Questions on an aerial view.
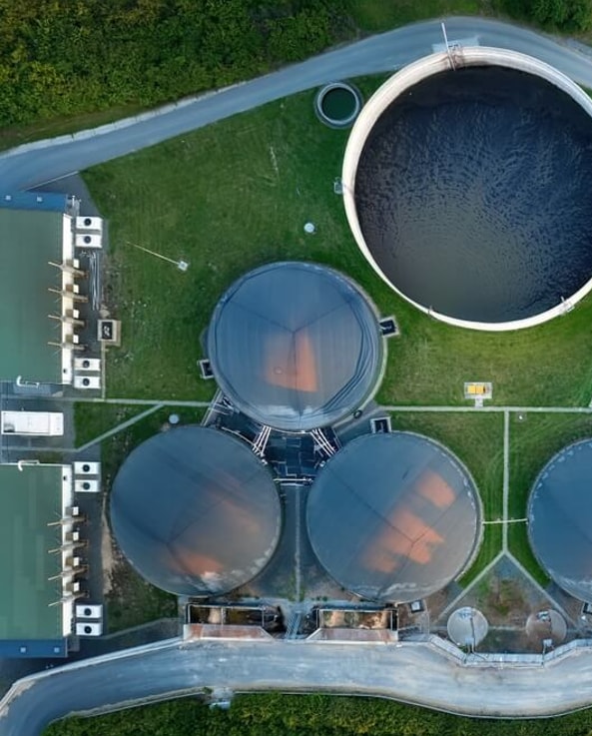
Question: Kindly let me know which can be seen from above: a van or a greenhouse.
van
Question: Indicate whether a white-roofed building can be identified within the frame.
No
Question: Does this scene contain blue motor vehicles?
No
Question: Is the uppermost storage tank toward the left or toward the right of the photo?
right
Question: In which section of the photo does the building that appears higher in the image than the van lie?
left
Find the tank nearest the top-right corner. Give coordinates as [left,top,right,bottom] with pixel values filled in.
[333,22,592,333]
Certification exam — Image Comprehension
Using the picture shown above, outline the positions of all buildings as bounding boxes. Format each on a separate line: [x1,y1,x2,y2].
[0,459,87,656]
[0,193,87,394]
